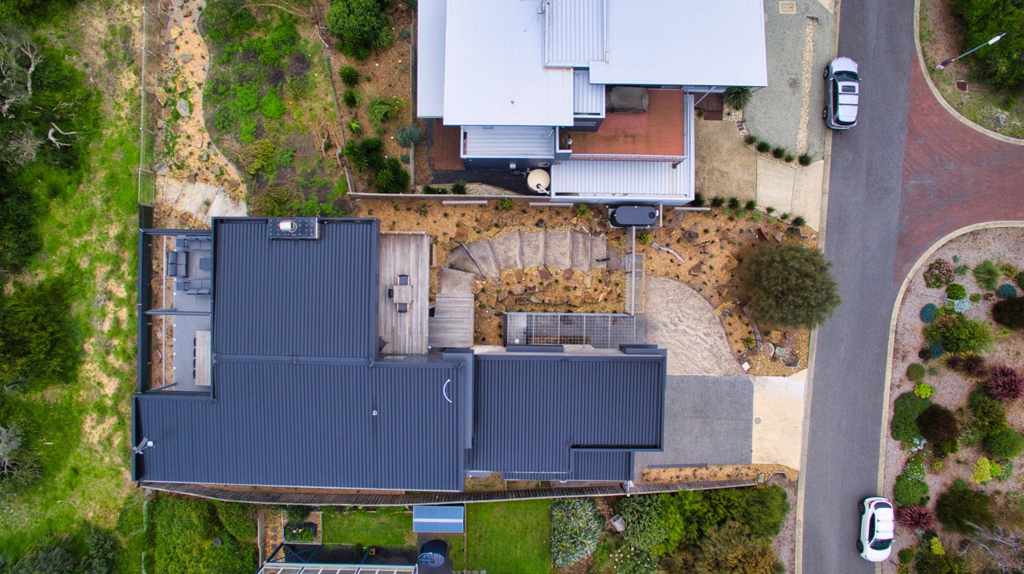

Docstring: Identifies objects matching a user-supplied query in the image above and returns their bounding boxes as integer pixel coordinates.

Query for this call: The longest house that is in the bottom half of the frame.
[132,217,666,492]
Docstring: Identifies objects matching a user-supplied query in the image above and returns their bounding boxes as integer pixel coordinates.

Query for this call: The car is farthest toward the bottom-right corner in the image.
[858,498,897,562]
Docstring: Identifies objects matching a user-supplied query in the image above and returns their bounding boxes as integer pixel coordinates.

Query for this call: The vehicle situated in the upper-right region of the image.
[824,57,864,134]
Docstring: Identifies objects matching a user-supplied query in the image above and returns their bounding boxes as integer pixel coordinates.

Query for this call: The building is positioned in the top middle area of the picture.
[417,0,767,205]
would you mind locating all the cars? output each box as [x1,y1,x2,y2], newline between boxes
[858,498,897,562]
[824,57,864,134]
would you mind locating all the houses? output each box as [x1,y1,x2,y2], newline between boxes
[132,217,666,492]
[417,0,767,205]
